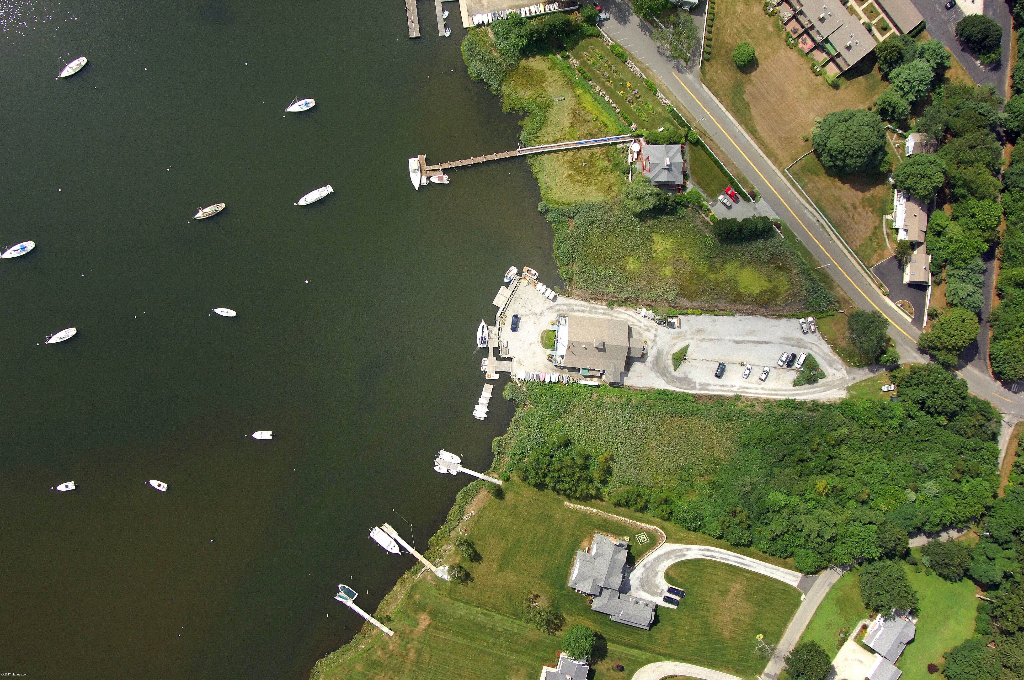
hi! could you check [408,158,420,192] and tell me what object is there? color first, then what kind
white boat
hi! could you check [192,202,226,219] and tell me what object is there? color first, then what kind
white boat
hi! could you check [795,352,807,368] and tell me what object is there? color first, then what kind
white vehicle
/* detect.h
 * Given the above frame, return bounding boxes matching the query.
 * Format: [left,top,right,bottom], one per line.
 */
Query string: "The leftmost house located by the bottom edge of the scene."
[540,652,589,680]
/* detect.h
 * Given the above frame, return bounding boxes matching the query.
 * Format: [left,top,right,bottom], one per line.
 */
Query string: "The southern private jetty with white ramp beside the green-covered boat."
[336,592,394,636]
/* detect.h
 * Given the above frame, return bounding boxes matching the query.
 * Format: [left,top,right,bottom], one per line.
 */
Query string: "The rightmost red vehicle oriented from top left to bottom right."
[725,187,740,203]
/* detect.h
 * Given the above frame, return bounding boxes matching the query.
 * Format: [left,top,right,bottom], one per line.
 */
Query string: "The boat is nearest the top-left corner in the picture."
[58,57,89,77]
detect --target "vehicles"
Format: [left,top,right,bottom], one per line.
[725,187,740,203]
[777,351,789,367]
[662,595,680,606]
[944,0,957,11]
[510,314,519,331]
[785,352,797,368]
[596,12,610,21]
[798,318,808,334]
[714,362,726,379]
[795,352,807,368]
[718,195,732,209]
[807,317,816,333]
[666,586,686,598]
[742,364,752,378]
